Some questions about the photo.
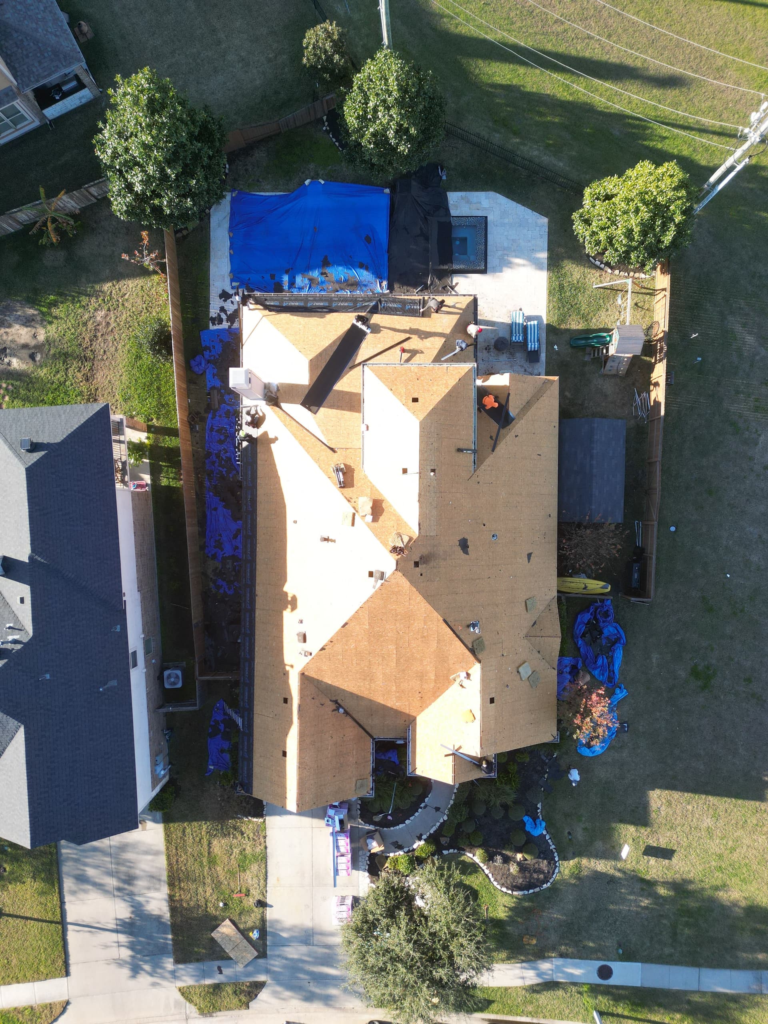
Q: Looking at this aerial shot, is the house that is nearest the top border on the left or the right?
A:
left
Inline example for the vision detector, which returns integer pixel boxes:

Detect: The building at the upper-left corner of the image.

[0,0,104,146]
